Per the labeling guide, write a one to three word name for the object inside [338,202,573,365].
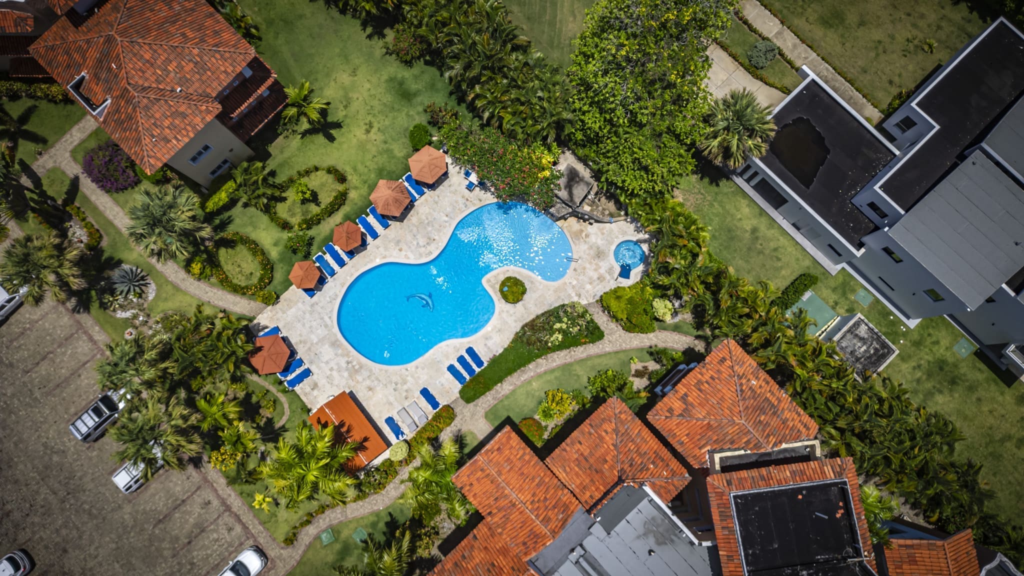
swimming pool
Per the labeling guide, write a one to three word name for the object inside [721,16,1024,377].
house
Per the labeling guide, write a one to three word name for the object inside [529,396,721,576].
house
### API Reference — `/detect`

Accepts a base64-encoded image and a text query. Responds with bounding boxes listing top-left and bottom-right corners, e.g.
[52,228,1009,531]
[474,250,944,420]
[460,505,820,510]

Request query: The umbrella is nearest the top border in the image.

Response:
[411,146,447,186]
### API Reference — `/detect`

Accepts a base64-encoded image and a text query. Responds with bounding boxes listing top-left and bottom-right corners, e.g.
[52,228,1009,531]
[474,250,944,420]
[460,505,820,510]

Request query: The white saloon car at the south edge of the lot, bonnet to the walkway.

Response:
[215,552,260,576]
